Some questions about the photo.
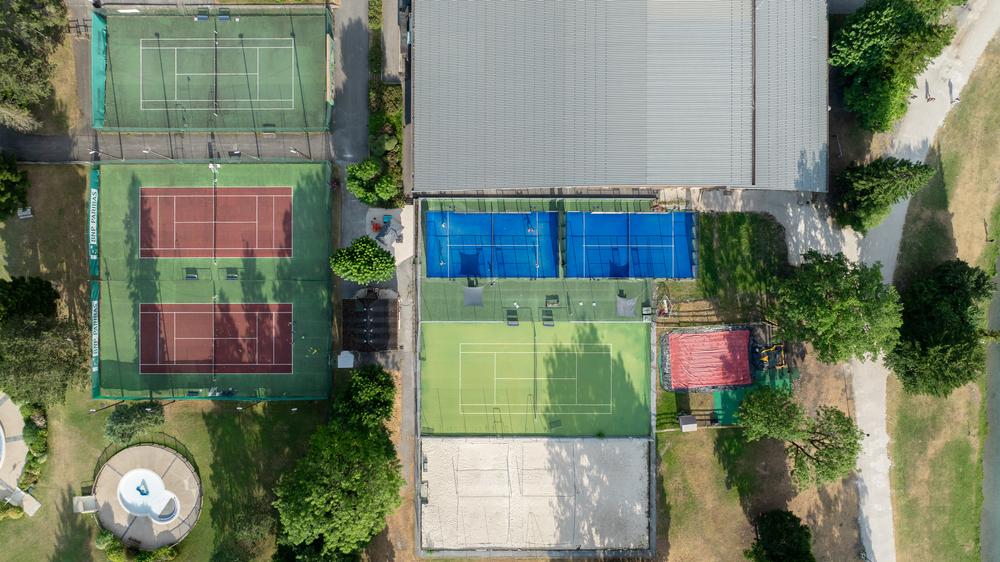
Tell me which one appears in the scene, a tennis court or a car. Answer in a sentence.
Visible in the photo is a tennis court.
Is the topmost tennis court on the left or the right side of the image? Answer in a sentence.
The topmost tennis court appears in the left half of the scene.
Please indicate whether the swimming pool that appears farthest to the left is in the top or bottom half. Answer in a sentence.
Seen from above, the swimming pool that appears farthest to the left lies in the bottom half of the view.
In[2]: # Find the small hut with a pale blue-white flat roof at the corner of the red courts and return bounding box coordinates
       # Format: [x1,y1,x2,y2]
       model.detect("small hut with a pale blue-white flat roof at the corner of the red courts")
[337,350,355,368]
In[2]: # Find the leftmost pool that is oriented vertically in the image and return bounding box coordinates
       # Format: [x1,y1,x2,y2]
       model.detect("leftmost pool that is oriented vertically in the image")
[0,396,26,493]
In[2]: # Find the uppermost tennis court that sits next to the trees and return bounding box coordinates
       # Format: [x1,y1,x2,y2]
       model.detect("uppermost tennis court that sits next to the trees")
[105,16,330,131]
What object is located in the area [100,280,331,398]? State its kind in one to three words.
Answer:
tennis court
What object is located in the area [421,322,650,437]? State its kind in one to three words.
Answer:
tennis court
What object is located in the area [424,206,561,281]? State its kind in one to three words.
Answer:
sports court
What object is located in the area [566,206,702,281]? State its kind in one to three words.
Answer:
sports court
